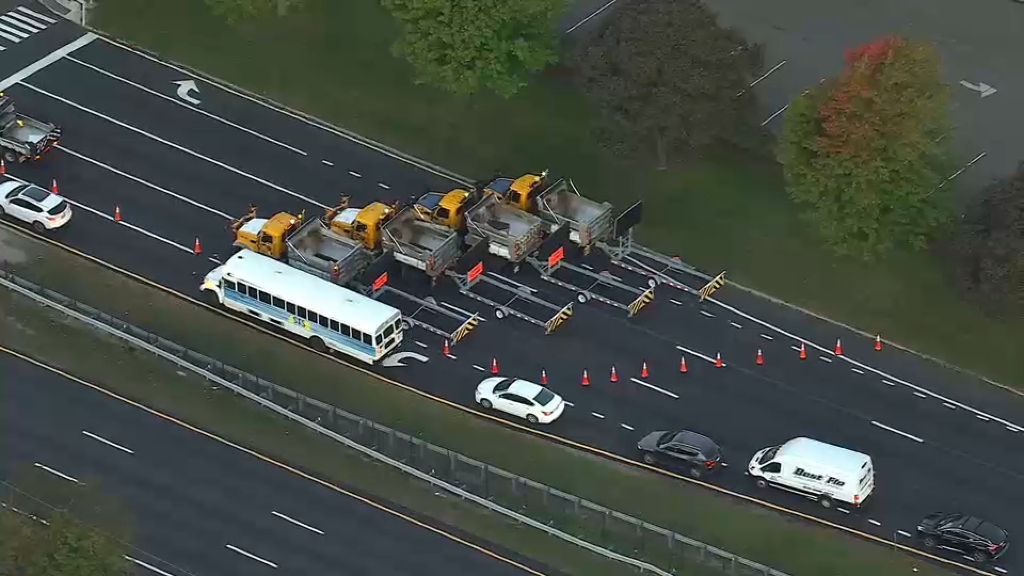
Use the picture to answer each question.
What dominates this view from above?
paved ground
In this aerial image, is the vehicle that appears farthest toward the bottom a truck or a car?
car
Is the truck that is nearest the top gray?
Yes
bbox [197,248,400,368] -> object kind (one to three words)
bus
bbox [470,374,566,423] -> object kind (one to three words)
car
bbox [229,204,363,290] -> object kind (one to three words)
truck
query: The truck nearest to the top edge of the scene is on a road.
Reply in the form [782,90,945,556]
[0,103,59,163]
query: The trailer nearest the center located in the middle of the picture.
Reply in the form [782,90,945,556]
[447,231,571,338]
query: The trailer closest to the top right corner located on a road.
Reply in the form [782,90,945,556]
[599,200,723,306]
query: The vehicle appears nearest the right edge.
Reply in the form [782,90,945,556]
[914,509,1012,562]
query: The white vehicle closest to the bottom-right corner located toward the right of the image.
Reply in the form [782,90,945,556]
[743,432,872,509]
